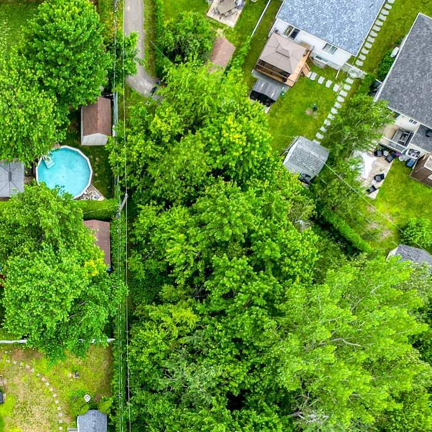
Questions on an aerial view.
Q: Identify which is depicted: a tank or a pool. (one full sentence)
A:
There is a pool in the scene.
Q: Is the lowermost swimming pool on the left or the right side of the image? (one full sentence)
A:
The lowermost swimming pool sits on the left side.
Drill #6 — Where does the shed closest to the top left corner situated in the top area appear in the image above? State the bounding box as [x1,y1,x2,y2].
[80,95,111,143]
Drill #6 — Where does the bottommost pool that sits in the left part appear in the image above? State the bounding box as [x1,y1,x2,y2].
[36,143,92,202]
